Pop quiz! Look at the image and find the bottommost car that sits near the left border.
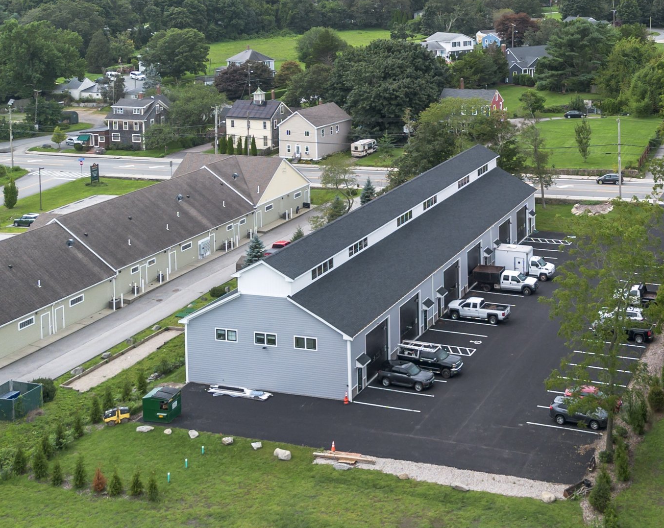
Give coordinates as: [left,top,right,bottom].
[10,212,44,226]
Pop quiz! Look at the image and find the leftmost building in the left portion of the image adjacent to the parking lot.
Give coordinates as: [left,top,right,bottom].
[0,151,315,358]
